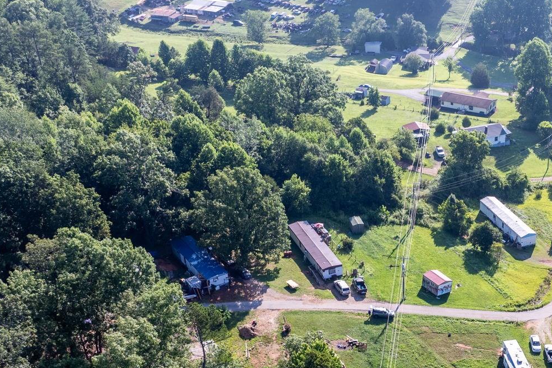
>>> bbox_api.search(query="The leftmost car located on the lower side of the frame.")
[236,265,253,280]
